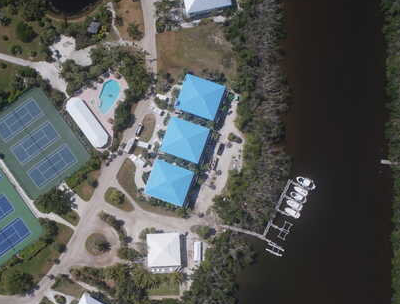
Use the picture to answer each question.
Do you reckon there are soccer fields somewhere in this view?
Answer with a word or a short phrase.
No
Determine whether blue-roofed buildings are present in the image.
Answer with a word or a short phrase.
Yes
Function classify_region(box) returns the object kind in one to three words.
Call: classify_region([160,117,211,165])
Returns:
house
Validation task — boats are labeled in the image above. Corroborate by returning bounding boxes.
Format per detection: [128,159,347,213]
[286,208,303,218]
[297,178,318,189]
[294,187,311,197]
[291,193,308,203]
[288,200,305,210]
